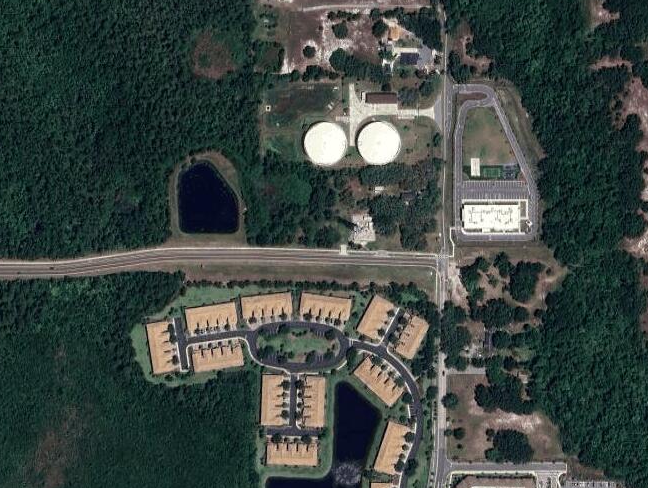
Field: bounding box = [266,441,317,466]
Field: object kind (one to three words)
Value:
house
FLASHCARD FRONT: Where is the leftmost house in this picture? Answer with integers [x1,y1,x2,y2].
[146,320,178,374]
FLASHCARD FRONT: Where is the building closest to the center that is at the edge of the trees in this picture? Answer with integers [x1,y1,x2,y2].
[354,217,373,240]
